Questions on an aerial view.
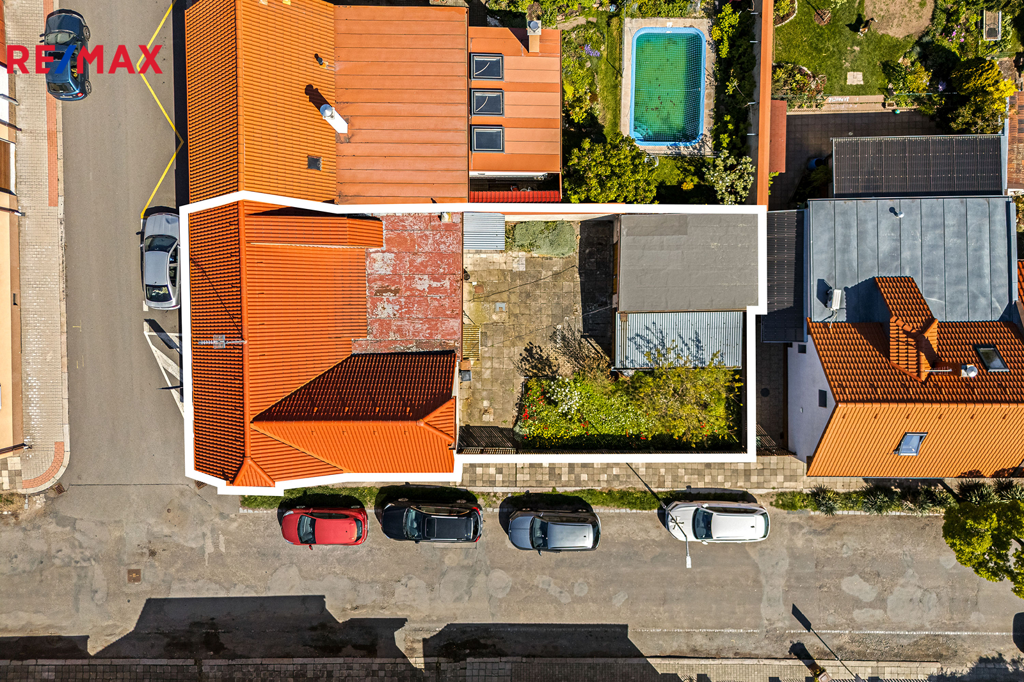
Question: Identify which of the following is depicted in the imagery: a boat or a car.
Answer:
car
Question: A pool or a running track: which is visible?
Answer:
pool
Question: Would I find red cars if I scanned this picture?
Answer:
Yes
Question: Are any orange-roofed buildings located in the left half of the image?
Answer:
Yes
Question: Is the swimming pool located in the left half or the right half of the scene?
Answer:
right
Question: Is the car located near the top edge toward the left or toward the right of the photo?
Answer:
left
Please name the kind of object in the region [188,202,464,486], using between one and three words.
house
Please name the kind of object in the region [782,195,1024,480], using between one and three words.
house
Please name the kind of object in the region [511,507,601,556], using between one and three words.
car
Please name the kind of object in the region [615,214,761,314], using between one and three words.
building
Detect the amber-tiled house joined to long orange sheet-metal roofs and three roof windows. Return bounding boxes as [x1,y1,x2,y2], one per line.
[181,0,564,220]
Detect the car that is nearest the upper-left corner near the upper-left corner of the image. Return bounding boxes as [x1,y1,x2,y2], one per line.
[37,13,90,101]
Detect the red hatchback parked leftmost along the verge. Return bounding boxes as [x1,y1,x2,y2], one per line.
[277,504,365,551]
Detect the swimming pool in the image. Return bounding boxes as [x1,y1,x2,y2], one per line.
[631,21,707,144]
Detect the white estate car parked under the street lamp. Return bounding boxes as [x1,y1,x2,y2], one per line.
[668,499,768,548]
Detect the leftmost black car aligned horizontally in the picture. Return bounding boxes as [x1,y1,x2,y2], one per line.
[382,499,482,549]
